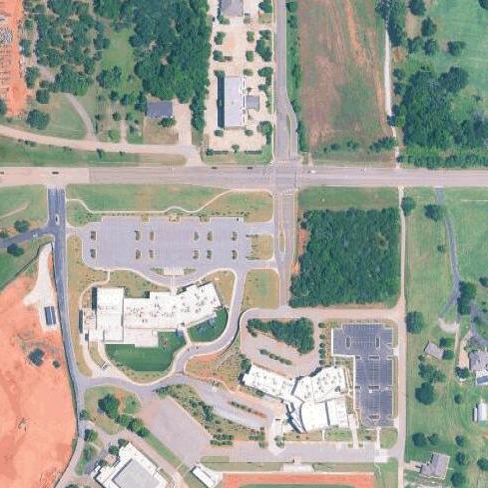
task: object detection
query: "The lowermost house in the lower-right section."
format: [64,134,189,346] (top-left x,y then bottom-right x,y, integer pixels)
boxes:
[421,454,450,479]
